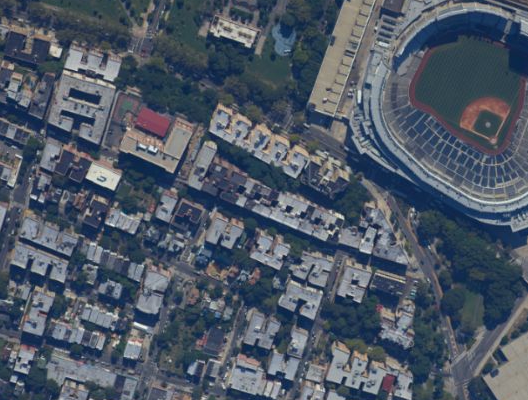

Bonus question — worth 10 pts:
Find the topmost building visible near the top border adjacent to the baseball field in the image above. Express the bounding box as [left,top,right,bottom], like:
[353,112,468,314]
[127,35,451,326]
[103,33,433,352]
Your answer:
[309,0,376,117]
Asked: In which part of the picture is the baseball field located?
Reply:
top right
